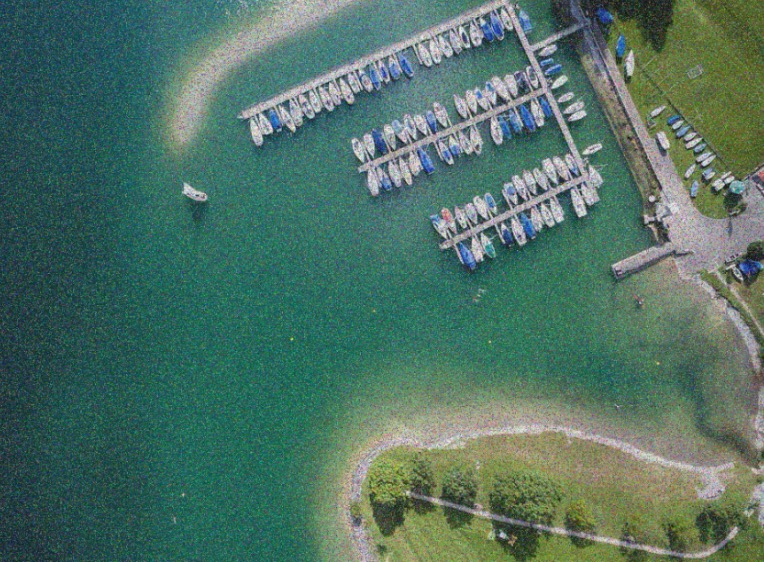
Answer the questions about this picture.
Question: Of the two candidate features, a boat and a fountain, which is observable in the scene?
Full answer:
Of the two, only a boat appears.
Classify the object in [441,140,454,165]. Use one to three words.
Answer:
boat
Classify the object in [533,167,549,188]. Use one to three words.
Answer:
boat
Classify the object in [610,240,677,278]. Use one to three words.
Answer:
pier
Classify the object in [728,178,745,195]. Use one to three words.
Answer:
umbrella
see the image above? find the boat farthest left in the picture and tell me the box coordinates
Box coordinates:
[183,184,209,201]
